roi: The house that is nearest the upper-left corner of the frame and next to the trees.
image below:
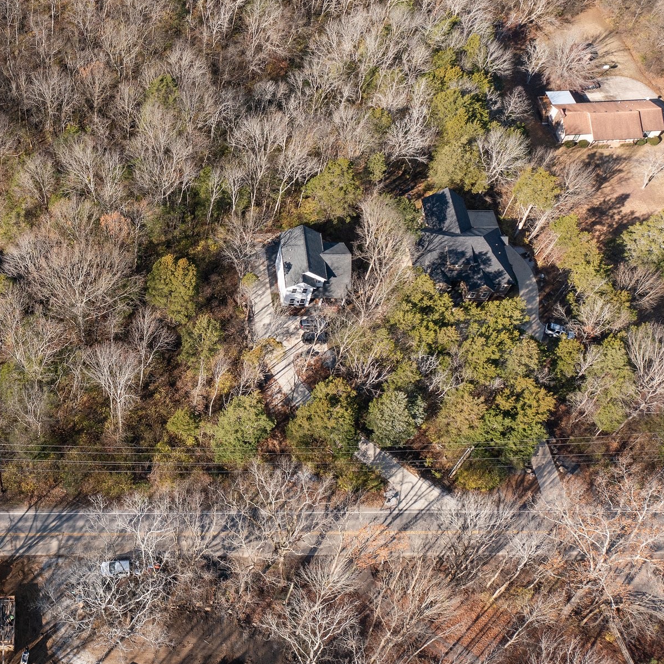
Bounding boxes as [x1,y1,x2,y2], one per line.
[273,224,353,309]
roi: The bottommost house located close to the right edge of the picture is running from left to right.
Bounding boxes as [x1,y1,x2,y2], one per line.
[524,93,664,152]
